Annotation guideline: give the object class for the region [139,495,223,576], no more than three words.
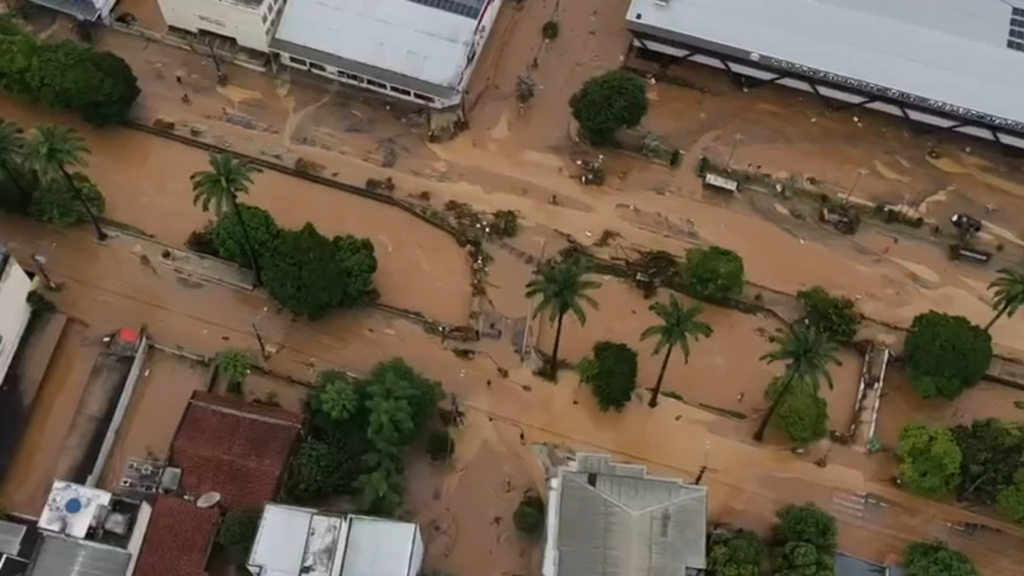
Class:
house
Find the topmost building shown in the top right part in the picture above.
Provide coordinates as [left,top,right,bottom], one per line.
[625,0,1024,169]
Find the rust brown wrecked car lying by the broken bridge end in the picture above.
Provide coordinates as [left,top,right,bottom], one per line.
[445,325,480,342]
